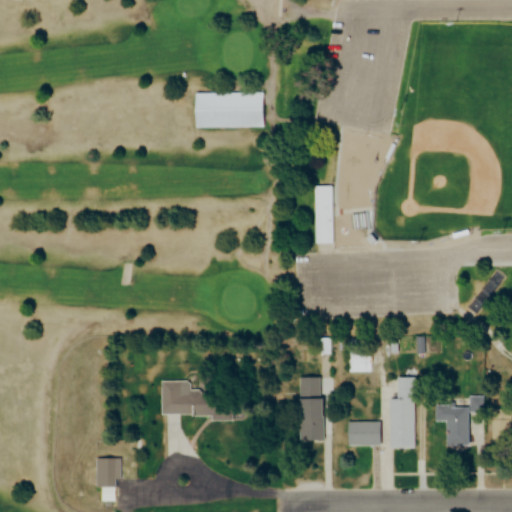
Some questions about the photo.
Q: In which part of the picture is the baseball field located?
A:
top right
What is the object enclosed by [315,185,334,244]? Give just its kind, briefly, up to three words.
building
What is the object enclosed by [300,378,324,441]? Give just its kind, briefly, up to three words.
house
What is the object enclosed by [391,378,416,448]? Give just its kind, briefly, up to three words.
house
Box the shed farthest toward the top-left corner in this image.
[196,92,264,128]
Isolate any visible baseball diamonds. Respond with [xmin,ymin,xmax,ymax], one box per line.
[376,22,512,240]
